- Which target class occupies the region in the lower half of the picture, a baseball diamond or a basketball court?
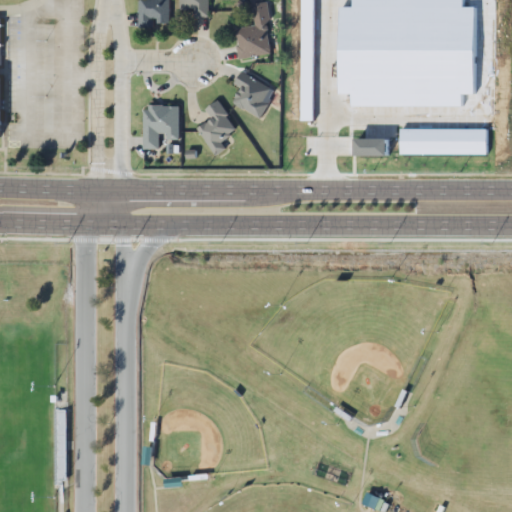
baseball diamond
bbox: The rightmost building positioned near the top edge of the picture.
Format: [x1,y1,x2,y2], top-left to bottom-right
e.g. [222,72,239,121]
[336,0,478,106]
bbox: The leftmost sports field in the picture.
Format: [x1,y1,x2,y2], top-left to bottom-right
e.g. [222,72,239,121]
[0,312,56,512]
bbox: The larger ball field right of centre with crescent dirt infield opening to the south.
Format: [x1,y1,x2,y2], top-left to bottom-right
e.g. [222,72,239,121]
[332,342,403,416]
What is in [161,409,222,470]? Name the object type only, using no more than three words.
baseball field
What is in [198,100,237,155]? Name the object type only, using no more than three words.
house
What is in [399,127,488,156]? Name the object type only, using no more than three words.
building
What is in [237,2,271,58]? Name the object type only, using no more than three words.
house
